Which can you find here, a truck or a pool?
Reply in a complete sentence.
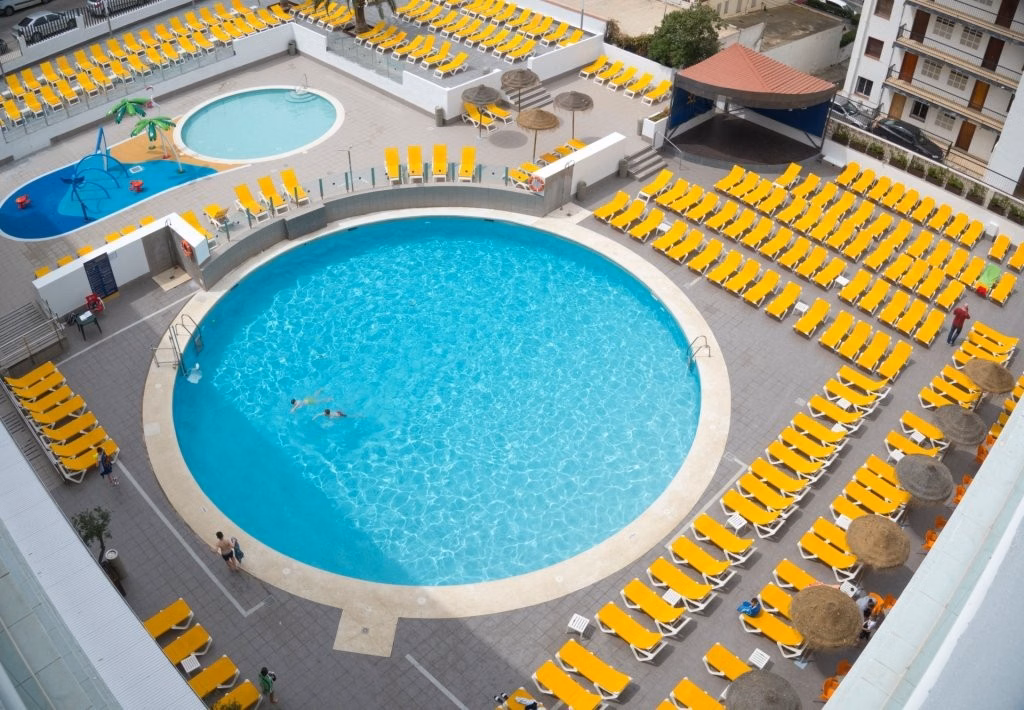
There is a pool in the scene.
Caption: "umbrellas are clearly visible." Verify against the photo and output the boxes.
[500,70,540,105]
[514,110,557,166]
[925,406,986,454]
[848,527,916,600]
[459,85,501,142]
[958,363,1017,414]
[786,585,864,666]
[555,90,597,139]
[890,459,956,531]
[723,674,803,710]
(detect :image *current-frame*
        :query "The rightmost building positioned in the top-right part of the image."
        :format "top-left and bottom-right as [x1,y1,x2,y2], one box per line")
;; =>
[840,0,1024,191]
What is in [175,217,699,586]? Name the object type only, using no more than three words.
swimming pool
